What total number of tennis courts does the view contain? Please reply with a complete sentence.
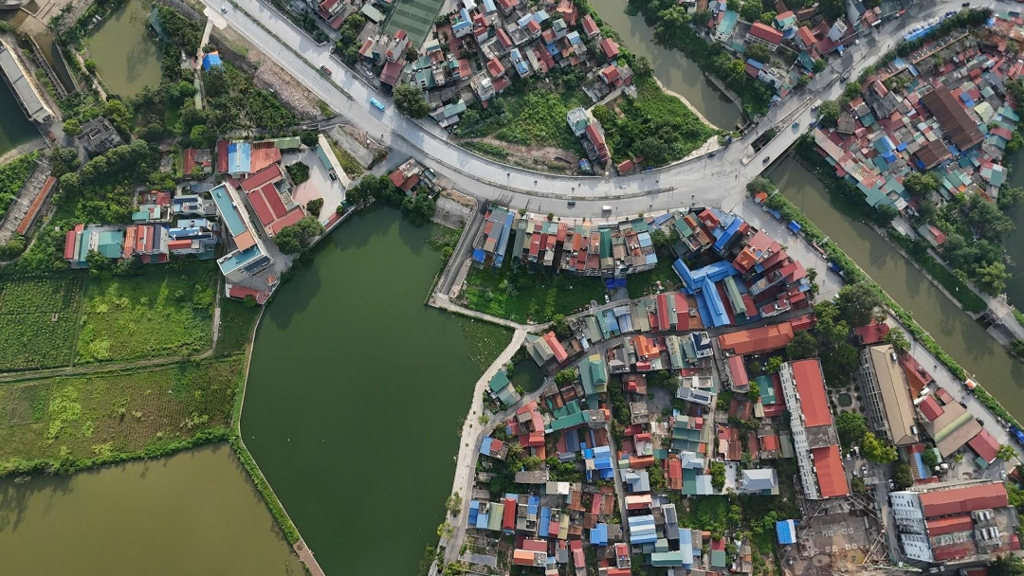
The picture shows no tennis courts.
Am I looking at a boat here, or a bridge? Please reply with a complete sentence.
This aerial view contains a bridge.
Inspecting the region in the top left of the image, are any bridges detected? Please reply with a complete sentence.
No, there's no bridge to be seen in the top left of the image.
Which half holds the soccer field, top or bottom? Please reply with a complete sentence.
Seen from above, the soccer field lies in the top half of the view.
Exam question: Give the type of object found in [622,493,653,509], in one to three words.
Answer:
house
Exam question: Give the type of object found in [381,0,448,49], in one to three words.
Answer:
soccer field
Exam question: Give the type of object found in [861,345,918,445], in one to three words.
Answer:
building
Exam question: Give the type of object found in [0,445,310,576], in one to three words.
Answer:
pond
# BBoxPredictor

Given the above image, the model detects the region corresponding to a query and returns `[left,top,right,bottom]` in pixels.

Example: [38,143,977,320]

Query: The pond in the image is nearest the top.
[90,0,161,97]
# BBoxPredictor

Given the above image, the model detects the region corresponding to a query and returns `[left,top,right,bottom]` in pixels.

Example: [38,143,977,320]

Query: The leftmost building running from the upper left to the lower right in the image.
[0,30,64,132]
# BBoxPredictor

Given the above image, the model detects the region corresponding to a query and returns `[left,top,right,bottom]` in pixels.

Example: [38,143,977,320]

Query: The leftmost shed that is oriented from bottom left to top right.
[12,181,58,242]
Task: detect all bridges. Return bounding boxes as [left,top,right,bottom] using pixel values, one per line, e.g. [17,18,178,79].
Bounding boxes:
[728,116,802,181]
